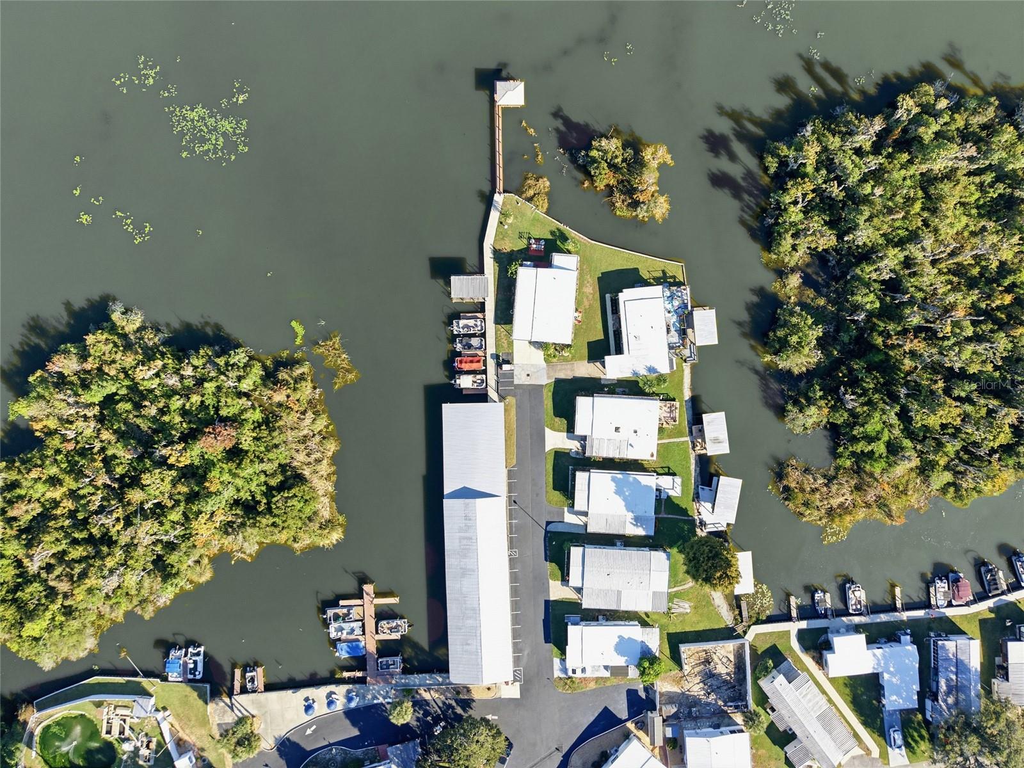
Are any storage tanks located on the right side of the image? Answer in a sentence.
No, looking on the right side of the image, there is no storage tank.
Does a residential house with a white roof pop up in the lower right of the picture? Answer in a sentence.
Yes, there is a residential house with a white roof in the lower right of the picture.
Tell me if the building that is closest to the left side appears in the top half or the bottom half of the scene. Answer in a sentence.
It is in the bottom half that the building that is closest to the left side appears.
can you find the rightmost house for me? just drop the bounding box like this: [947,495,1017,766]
[983,620,1024,706]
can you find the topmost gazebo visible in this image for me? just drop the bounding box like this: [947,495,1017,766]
[495,76,524,108]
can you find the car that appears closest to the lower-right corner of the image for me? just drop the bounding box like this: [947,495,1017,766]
[890,727,905,752]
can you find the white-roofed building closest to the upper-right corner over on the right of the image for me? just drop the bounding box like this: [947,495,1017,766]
[687,307,718,357]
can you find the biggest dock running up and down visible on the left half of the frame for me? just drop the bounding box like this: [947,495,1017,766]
[361,583,379,683]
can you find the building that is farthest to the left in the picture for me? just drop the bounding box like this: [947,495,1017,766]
[133,692,158,716]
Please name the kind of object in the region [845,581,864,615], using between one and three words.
boat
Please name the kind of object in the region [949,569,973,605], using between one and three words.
boat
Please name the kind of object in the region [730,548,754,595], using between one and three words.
building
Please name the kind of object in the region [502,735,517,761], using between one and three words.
car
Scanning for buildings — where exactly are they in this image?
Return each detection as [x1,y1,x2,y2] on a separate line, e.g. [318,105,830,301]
[677,635,754,712]
[575,394,659,459]
[451,276,488,302]
[574,470,683,536]
[133,692,158,716]
[699,475,742,531]
[564,614,659,677]
[646,707,662,746]
[925,632,980,726]
[822,625,920,710]
[693,412,730,456]
[442,402,513,684]
[730,548,754,595]
[664,722,678,737]
[687,307,718,357]
[753,658,859,768]
[604,286,675,378]
[683,722,750,768]
[569,544,669,612]
[174,744,202,768]
[513,254,578,344]
[598,730,664,768]
[983,620,1024,706]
